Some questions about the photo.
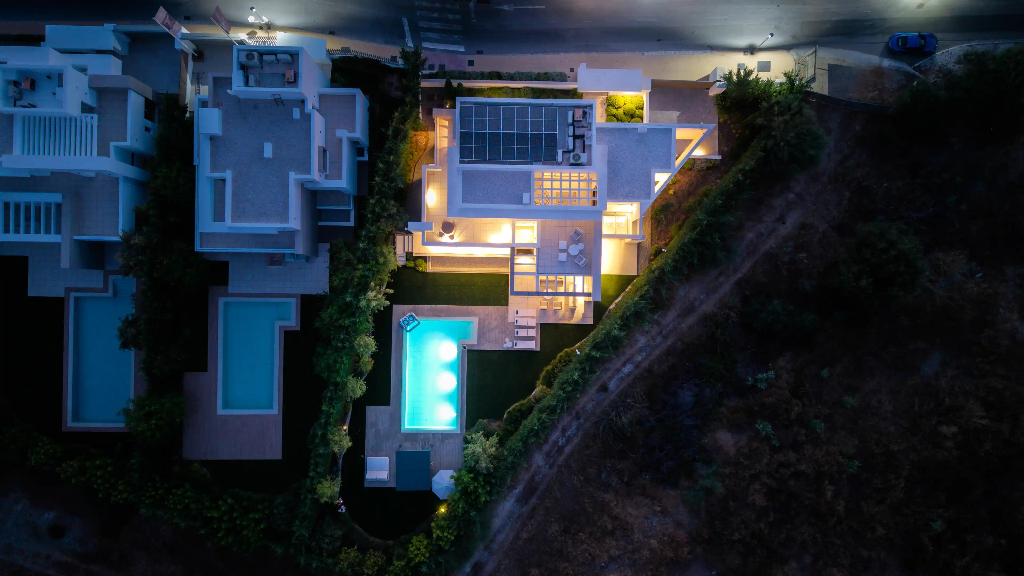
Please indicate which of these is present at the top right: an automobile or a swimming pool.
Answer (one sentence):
You can see an automobile at the top right.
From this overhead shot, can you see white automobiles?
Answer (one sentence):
No, the frame has no white automobile in it.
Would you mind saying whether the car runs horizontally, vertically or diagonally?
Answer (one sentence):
The car has been laid out horizontally relative to the frame.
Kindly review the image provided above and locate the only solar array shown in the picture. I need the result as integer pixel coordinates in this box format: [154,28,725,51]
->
[461,105,557,164]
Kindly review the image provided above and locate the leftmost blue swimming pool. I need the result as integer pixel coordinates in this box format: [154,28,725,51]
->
[67,274,135,427]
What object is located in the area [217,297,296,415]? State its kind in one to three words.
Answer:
swimming pool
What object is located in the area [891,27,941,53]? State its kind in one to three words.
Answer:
car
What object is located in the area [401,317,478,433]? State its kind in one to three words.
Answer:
swimming pool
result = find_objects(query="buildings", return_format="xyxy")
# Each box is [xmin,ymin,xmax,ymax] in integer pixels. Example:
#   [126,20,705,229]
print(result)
[195,45,369,257]
[408,97,715,324]
[0,46,161,269]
